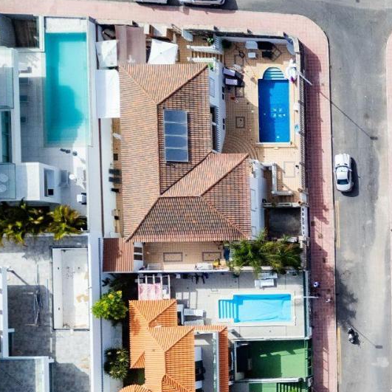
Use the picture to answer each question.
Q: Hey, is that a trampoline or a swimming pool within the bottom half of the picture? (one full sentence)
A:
There is a swimming pool within the bottom half of the picture.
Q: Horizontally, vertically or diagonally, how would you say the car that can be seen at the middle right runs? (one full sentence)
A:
What the image shows is the car that can be seen at the middle right lying vertically.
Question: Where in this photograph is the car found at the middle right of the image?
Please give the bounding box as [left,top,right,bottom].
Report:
[333,153,354,193]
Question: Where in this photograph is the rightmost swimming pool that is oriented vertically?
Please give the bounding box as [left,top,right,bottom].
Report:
[255,65,293,145]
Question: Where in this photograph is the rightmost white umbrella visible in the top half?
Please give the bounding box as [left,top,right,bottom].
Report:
[152,39,180,63]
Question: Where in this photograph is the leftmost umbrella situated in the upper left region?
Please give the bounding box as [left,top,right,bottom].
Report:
[96,40,118,69]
